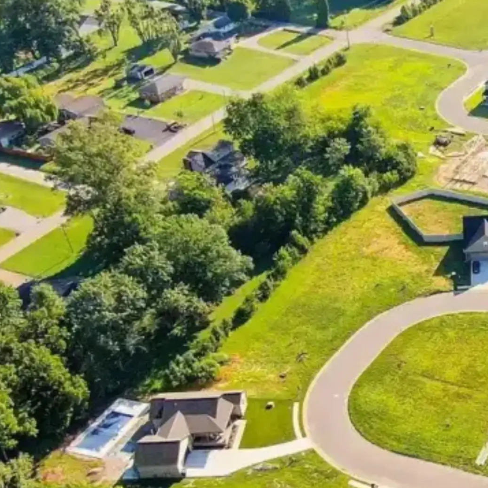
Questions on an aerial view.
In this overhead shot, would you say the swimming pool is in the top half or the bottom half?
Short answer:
bottom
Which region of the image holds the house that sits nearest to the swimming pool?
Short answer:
bottom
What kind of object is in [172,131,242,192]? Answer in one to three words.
house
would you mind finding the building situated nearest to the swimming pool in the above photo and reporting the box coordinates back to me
[132,384,267,477]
